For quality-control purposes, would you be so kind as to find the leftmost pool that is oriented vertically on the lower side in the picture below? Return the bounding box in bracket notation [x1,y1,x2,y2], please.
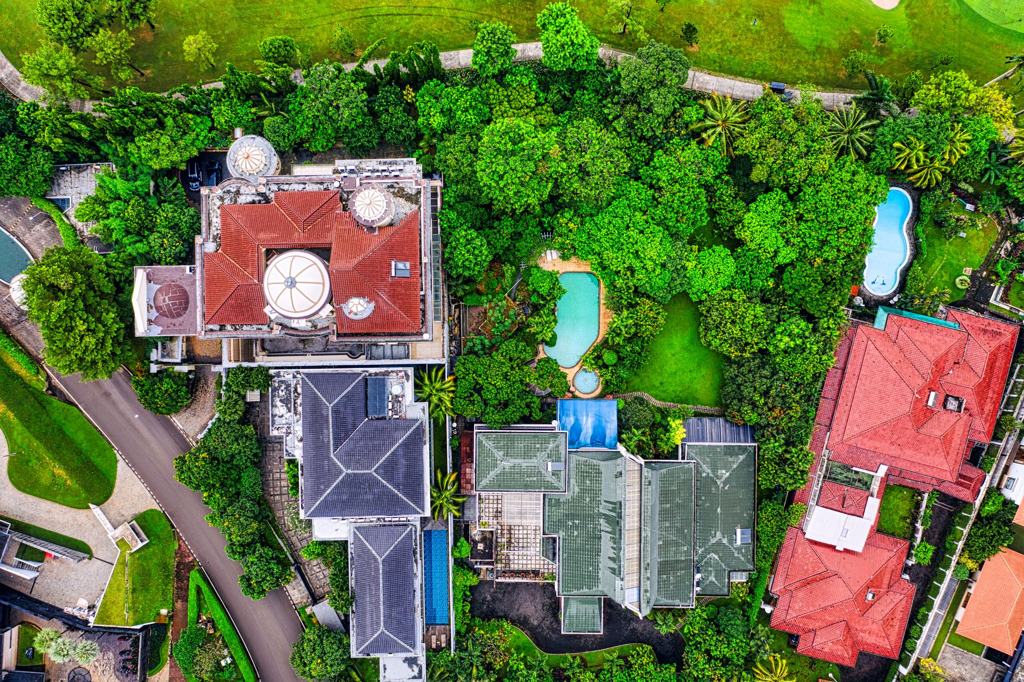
[425,529,449,626]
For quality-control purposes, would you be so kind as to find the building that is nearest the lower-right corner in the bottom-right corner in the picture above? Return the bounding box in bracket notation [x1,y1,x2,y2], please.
[951,552,1024,657]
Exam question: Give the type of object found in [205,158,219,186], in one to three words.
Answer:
car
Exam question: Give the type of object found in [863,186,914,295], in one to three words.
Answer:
swimming pool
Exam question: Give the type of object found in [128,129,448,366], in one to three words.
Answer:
house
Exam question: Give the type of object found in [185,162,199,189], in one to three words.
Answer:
car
